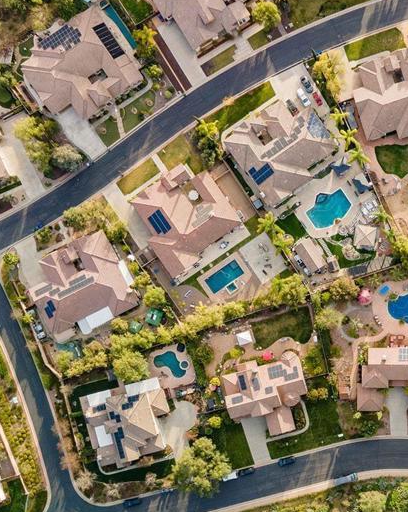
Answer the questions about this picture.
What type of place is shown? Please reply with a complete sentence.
The picture captures a residential area.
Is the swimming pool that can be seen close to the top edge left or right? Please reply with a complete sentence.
You can find the swimming pool that can be seen close to the top edge on the left side of the picture.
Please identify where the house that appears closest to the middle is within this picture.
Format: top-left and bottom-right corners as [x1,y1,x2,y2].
[129,164,241,278]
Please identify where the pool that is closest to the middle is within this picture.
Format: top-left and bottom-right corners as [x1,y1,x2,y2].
[204,258,245,294]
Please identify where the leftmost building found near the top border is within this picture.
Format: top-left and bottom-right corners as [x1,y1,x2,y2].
[19,6,145,123]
